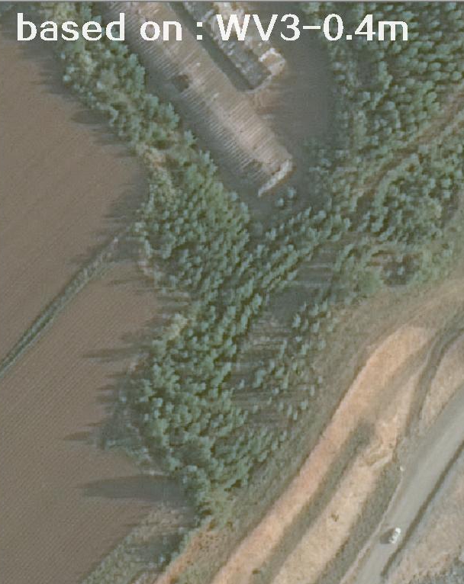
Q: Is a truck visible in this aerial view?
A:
No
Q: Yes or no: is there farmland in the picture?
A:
Yes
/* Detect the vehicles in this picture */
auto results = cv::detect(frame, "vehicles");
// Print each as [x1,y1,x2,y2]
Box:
[387,527,400,543]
